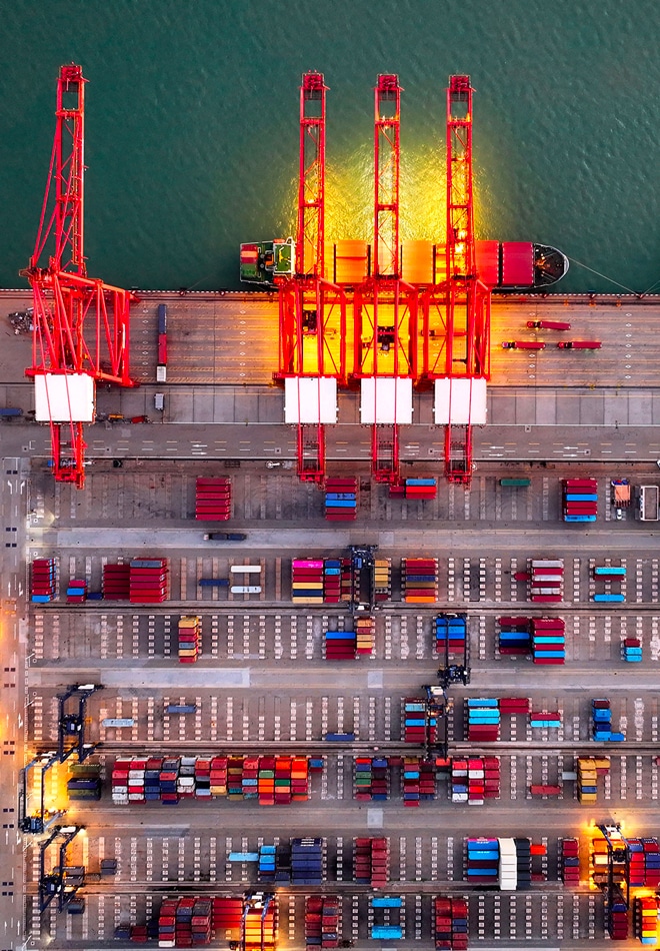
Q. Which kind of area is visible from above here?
port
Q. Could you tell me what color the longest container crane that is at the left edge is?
red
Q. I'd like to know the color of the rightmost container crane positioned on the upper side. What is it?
red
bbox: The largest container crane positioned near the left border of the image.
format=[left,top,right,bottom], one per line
[21,57,136,500]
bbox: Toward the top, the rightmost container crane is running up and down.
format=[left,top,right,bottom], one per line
[419,68,498,494]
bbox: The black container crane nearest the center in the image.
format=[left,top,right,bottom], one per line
[345,541,382,613]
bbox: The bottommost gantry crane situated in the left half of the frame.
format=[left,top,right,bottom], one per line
[240,891,280,951]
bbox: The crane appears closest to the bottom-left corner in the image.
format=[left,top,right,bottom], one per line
[38,826,88,914]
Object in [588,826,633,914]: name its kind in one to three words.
container crane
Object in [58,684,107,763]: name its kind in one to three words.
container crane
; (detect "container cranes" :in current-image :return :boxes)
[268,67,355,493]
[434,606,472,684]
[38,826,88,914]
[345,541,382,613]
[419,68,498,494]
[344,68,423,493]
[19,749,71,836]
[588,826,633,914]
[240,891,280,951]
[416,682,454,762]
[21,57,136,500]
[58,684,107,763]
